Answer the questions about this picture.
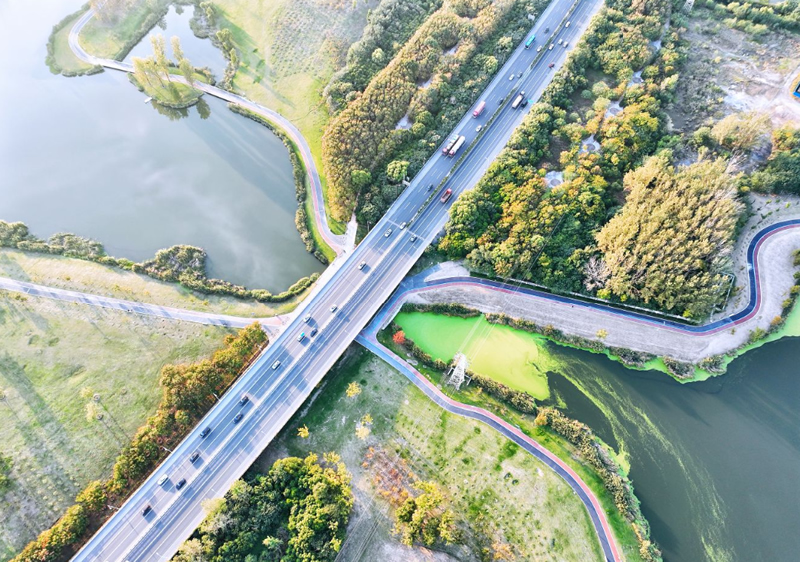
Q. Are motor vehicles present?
Yes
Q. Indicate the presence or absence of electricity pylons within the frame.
Yes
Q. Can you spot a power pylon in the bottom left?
No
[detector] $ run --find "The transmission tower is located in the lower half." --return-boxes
[445,352,474,393]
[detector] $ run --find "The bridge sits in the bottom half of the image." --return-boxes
[62,217,430,562]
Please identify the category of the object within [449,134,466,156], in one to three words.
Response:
vehicle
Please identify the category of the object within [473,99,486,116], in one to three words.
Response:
vehicle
